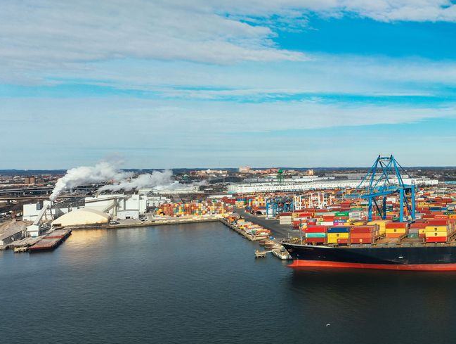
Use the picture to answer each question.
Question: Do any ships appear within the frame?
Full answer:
Yes, the frame does contain a ship.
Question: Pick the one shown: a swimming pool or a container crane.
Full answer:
It is a container crane that can be seen here.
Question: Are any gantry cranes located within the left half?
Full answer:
No, I can find no gantry crane within the left half.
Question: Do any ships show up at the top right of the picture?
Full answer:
No, I can find no ship at the top right of the picture.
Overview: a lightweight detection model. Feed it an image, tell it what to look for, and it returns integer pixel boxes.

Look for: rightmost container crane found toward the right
[356,148,419,220]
